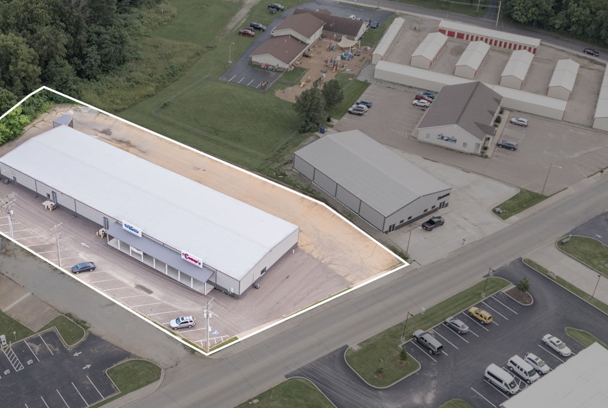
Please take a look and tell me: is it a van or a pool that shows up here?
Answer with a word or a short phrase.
van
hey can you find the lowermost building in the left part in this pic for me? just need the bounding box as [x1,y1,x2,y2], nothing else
[0,124,302,299]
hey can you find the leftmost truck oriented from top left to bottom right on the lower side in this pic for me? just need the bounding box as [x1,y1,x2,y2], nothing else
[411,329,446,356]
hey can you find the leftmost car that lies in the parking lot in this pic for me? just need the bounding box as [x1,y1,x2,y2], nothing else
[70,262,97,276]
